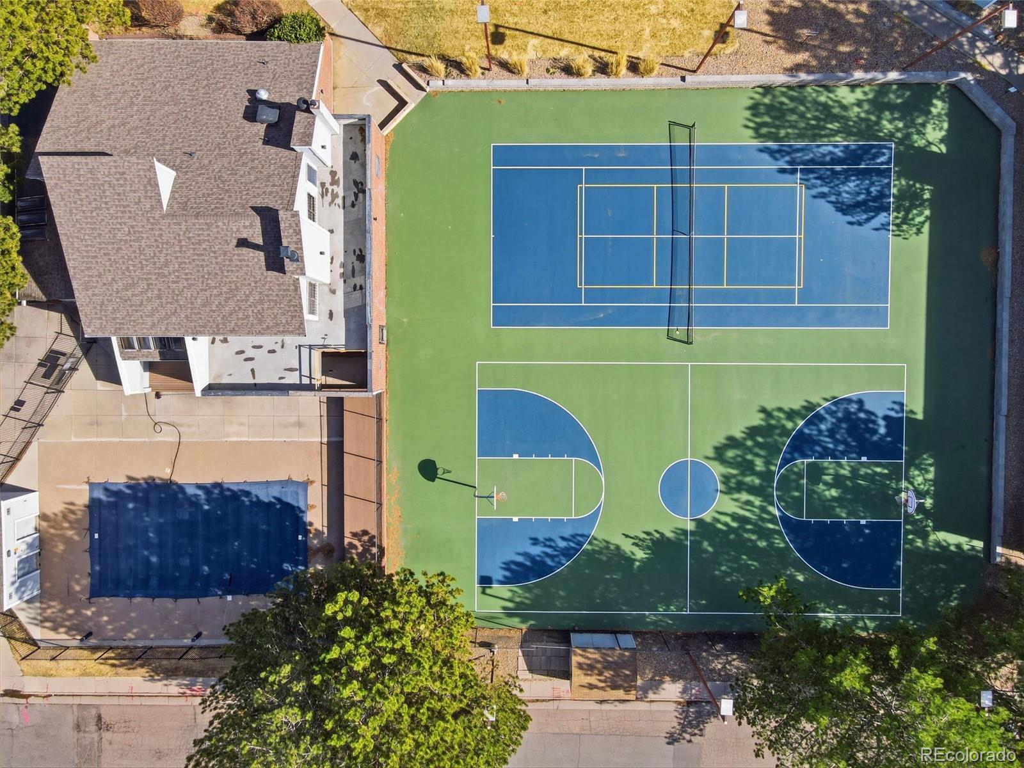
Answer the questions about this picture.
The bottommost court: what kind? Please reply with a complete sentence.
Looking closely, the bottommost court is a basketball court.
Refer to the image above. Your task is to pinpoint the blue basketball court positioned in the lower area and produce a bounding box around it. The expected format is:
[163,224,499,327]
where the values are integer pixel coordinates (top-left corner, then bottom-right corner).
[476,362,906,616]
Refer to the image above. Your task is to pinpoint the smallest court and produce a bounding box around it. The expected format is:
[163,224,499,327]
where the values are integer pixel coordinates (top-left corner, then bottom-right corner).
[577,184,804,288]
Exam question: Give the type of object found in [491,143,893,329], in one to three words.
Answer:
tennis court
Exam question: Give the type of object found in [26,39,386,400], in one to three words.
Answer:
house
